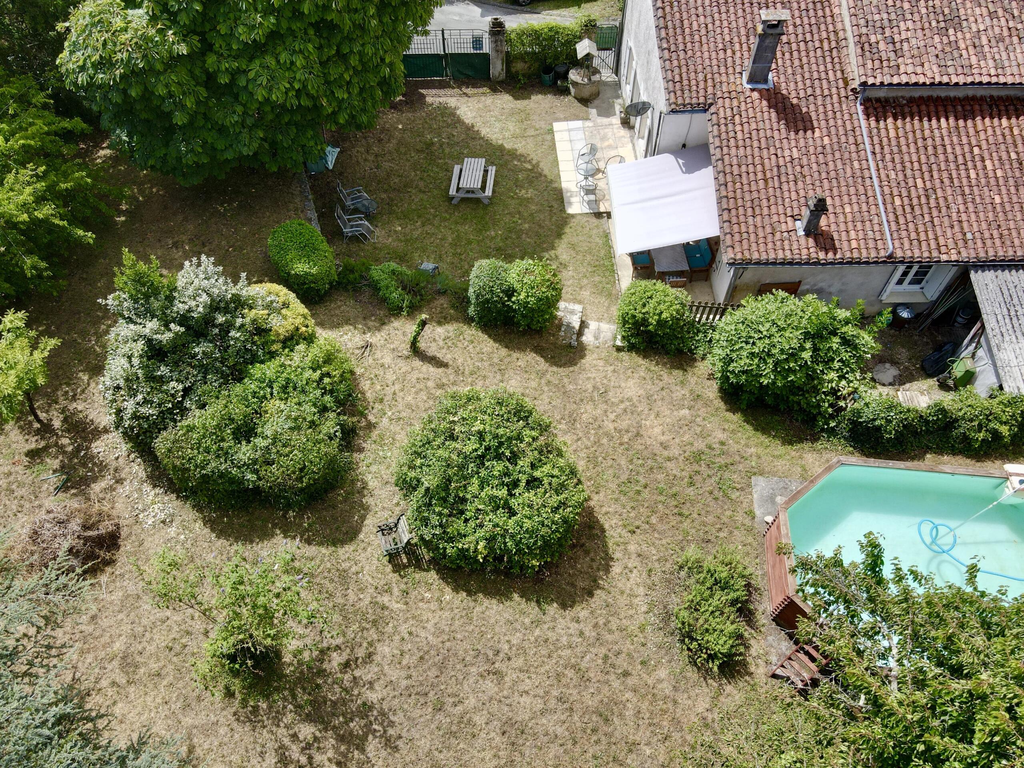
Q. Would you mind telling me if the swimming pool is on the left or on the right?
right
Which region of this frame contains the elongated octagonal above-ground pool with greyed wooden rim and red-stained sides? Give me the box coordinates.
[767,454,1024,690]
